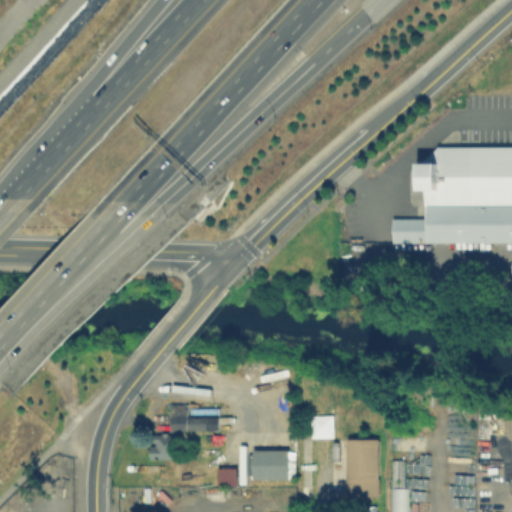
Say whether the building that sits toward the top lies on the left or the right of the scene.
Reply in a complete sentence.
The building that sits toward the top is on the right side of the image.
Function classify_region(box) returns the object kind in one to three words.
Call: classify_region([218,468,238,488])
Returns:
shed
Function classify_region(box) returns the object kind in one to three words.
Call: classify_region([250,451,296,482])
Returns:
barn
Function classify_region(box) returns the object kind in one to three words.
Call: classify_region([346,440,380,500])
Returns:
building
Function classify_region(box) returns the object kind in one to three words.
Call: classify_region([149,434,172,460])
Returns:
house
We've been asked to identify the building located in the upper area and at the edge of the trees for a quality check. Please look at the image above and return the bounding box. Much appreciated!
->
[392,148,512,244]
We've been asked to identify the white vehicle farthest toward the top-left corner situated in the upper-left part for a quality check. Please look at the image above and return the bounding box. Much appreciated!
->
[106,52,120,67]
